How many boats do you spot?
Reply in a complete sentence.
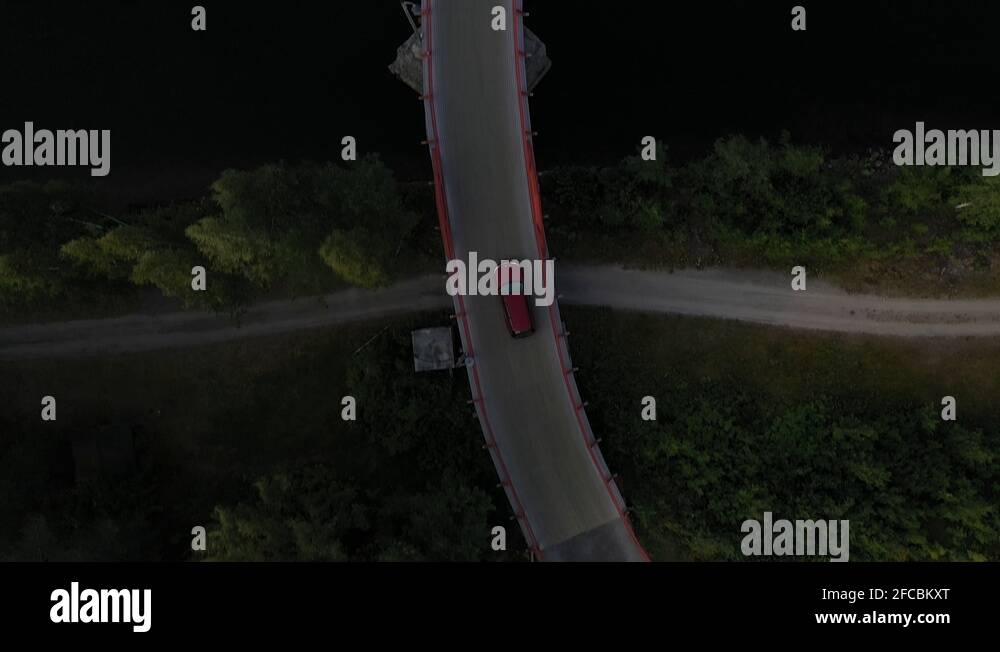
There are no boats in the image.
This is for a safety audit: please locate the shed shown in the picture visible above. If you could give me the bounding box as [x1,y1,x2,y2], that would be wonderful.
[77,419,151,480]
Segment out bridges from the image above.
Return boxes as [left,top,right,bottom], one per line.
[390,0,699,652]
